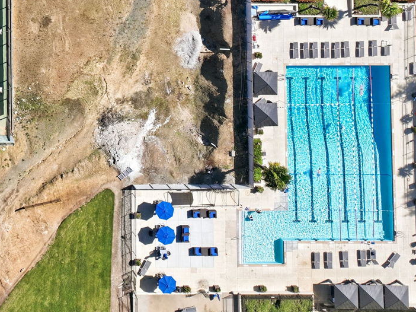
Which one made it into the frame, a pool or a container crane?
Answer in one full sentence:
This aerial view contains a pool.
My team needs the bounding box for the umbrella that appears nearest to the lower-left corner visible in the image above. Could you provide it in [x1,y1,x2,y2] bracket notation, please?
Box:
[156,273,177,294]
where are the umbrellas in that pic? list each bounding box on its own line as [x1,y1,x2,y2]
[156,273,177,294]
[155,224,175,244]
[154,199,174,219]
